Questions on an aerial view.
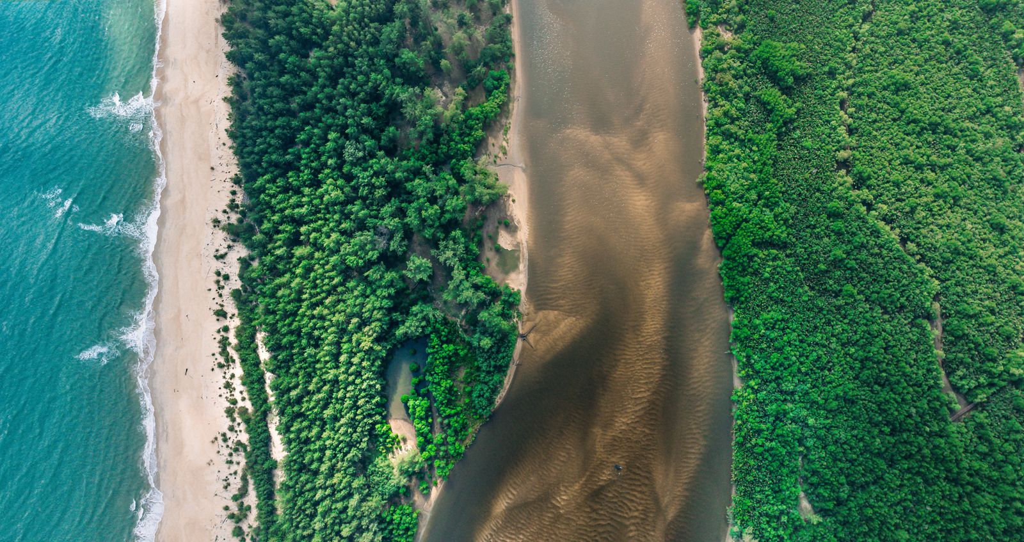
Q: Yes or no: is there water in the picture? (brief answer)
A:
Yes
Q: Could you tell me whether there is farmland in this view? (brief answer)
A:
No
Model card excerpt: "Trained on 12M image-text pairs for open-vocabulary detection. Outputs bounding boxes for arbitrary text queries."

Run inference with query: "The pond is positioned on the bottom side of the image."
[387,339,434,419]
